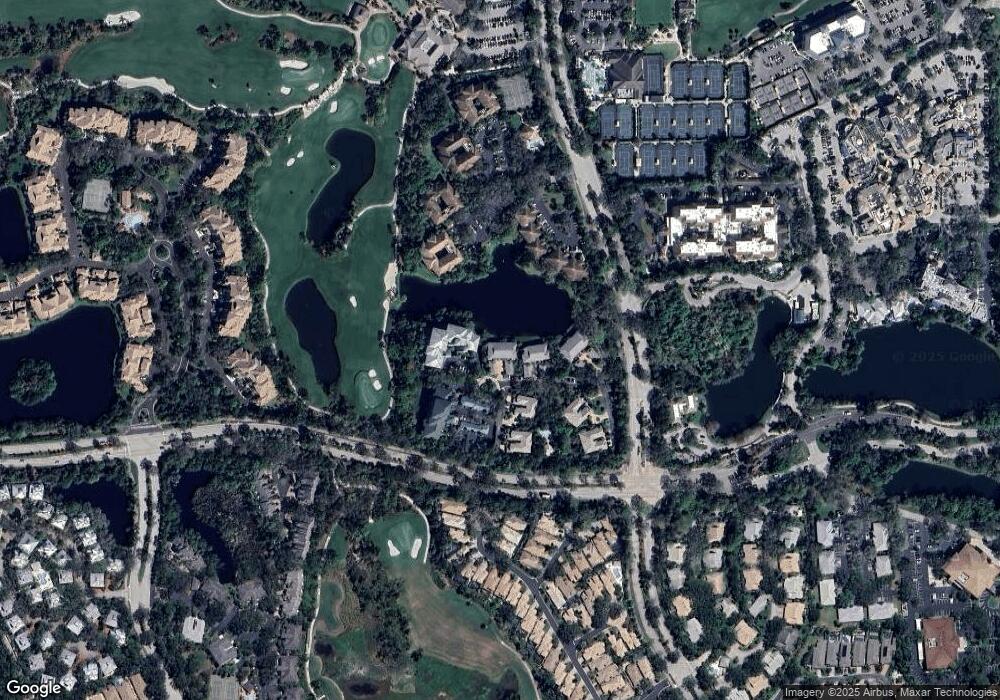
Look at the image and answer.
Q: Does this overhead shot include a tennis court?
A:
Yes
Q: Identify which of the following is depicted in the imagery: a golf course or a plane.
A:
golf course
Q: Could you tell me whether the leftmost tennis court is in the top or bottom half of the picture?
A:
top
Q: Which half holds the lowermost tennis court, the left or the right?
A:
left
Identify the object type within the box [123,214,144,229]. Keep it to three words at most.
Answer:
swimming pool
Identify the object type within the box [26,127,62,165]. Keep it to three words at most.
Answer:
house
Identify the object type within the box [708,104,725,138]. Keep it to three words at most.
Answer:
tennis court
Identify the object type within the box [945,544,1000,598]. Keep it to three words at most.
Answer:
building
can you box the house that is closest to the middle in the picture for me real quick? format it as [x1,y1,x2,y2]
[487,342,517,375]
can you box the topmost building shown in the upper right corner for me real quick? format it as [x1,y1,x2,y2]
[808,13,867,54]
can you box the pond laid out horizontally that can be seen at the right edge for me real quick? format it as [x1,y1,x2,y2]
[884,462,1000,503]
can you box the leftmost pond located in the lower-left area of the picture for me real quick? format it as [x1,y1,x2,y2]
[59,480,134,548]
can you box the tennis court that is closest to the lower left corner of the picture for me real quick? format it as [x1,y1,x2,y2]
[209,675,241,700]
